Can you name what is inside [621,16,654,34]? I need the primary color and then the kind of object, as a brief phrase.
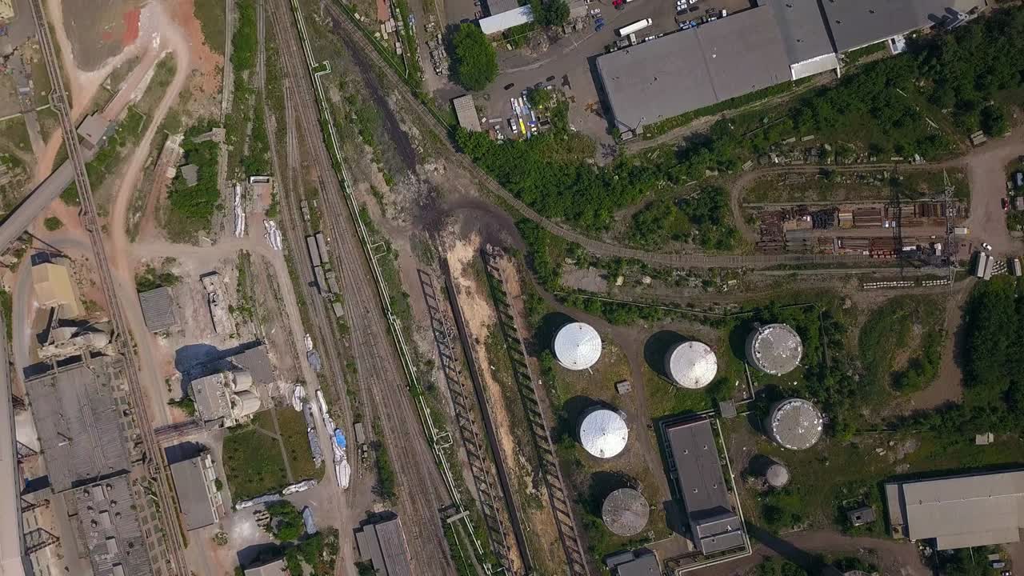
white vehicle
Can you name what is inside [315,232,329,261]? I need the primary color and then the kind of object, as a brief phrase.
gray rail car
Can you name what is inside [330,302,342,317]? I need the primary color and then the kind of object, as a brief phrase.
gray rail car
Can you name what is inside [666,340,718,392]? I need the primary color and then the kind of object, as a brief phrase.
white storage tank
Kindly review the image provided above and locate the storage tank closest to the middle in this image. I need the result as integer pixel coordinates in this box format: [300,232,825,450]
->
[553,321,605,374]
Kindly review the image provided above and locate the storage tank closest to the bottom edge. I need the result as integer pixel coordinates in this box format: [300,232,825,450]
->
[600,481,650,536]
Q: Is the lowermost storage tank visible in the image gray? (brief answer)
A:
Yes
